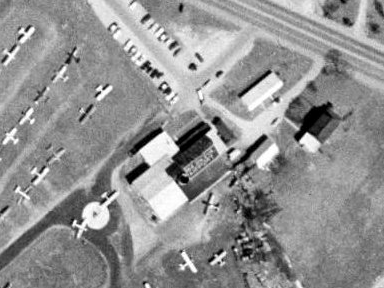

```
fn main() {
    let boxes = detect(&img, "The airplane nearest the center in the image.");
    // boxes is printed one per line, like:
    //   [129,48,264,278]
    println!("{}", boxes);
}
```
[204,195,218,214]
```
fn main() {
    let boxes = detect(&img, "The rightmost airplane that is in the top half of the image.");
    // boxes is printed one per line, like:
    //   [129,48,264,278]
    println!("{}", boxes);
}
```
[96,84,113,101]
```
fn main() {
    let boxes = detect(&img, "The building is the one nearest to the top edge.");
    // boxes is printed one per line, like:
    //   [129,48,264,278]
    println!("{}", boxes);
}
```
[242,73,283,110]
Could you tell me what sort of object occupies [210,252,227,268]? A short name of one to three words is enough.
airplane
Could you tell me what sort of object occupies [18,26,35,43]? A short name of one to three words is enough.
airplane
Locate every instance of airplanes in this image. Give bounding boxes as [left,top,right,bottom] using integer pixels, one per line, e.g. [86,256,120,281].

[0,207,11,221]
[5,45,21,62]
[34,86,50,103]
[65,47,80,65]
[18,109,35,125]
[179,253,197,272]
[32,168,49,185]
[3,129,18,145]
[103,190,120,207]
[96,84,113,101]
[48,147,65,164]
[210,252,227,268]
[204,195,218,214]
[73,219,88,238]
[80,107,96,123]
[18,26,35,43]
[52,66,69,83]
[15,186,32,205]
